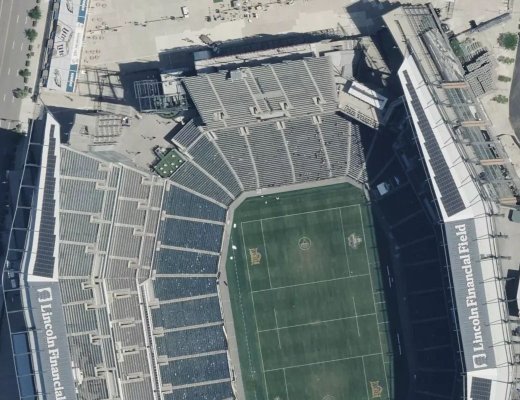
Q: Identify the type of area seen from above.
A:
sports ground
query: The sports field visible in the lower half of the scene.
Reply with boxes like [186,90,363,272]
[226,182,418,400]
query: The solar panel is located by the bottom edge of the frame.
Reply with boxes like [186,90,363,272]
[469,377,493,400]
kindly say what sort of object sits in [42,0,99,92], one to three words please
building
